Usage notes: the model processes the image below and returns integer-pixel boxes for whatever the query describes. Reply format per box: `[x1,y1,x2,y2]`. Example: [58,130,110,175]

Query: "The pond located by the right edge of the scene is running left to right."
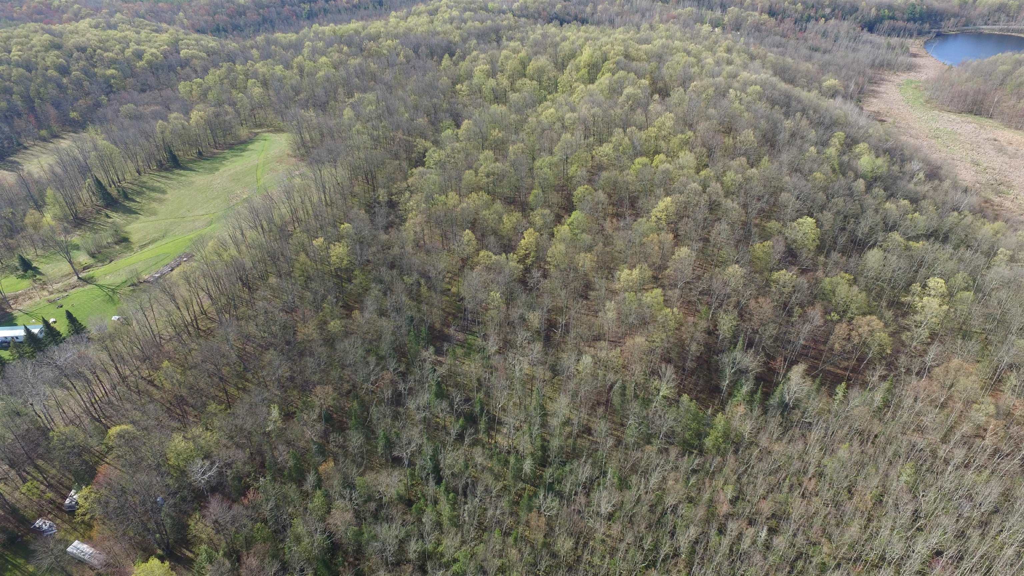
[925,32,1024,79]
